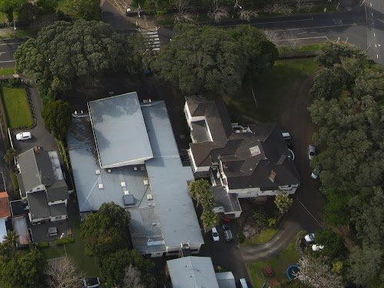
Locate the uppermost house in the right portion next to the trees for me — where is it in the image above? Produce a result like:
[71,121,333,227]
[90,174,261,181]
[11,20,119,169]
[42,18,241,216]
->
[173,96,300,219]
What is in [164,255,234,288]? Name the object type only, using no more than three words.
shed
